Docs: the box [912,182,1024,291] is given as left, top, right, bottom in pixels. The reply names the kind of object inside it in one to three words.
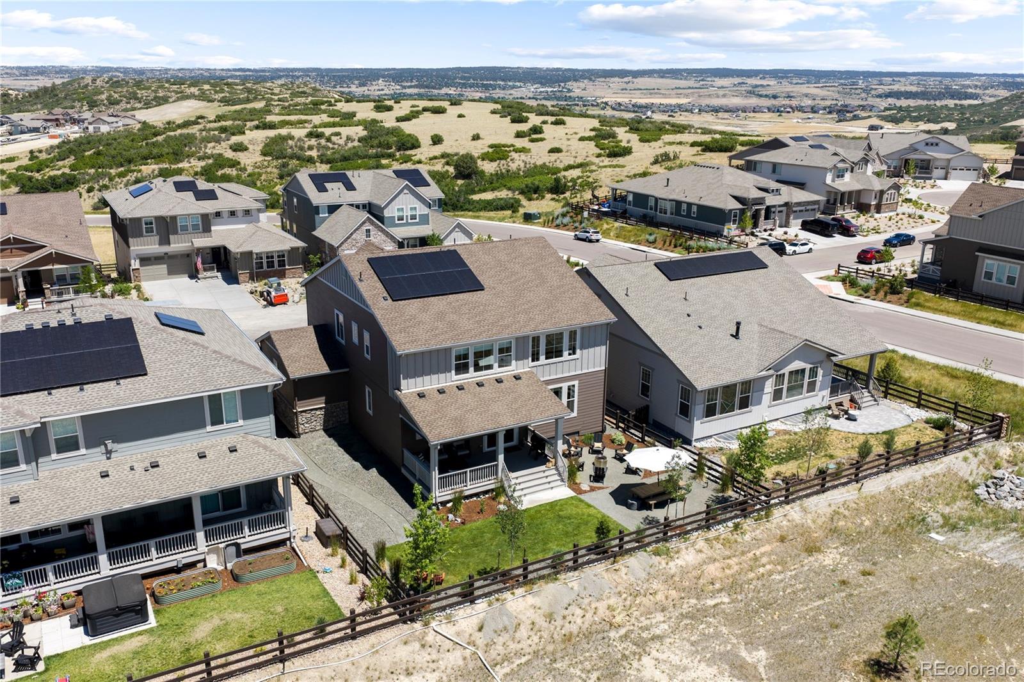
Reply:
house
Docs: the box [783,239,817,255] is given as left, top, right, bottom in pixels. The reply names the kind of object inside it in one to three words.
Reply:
car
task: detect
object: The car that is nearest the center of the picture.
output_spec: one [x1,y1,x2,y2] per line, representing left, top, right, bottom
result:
[572,225,608,242]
